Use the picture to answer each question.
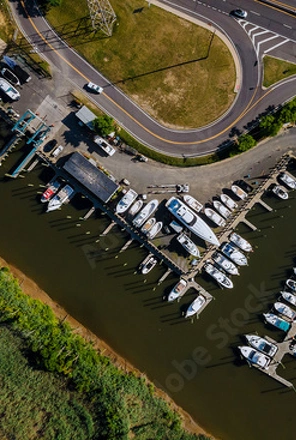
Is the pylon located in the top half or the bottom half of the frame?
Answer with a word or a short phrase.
top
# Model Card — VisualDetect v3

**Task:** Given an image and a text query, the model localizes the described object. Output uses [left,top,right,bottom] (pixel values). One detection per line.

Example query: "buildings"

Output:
[75,105,94,128]
[63,150,120,203]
